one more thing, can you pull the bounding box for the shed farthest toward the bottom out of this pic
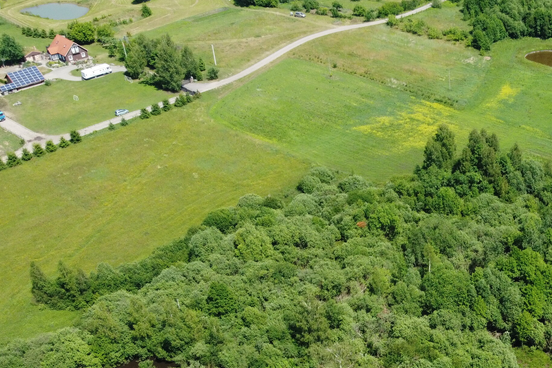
[0,66,47,98]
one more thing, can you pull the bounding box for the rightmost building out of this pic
[41,32,85,62]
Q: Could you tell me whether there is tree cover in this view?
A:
Yes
